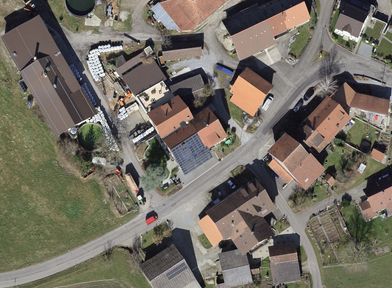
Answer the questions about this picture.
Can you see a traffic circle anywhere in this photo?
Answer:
No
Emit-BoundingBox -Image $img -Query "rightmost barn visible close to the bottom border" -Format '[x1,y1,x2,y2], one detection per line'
[268,242,302,286]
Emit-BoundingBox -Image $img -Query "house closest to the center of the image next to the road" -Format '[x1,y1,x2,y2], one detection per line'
[148,97,228,176]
